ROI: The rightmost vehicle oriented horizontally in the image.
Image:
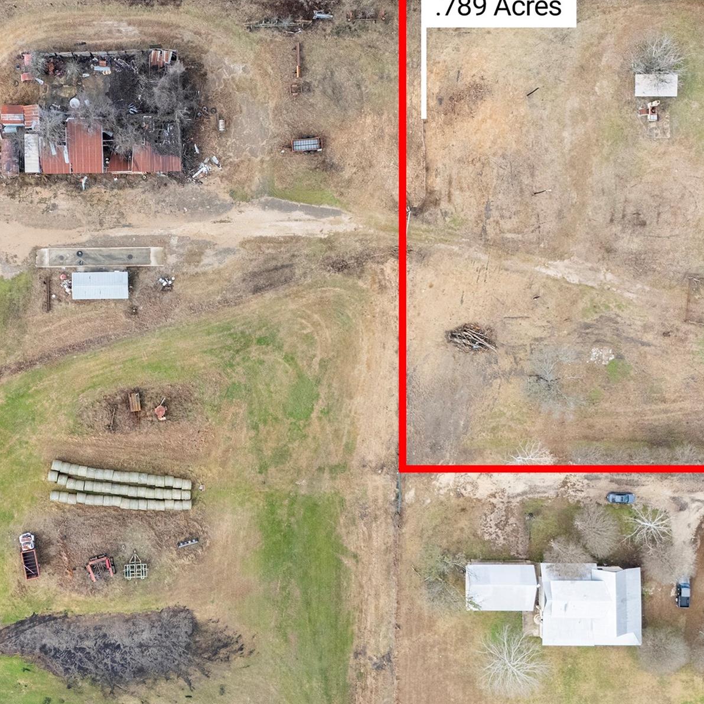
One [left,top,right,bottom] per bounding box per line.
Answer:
[608,493,637,506]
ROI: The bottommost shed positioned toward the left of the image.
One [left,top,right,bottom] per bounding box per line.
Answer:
[72,269,129,300]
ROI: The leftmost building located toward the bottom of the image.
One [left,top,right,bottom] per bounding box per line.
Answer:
[463,561,541,611]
